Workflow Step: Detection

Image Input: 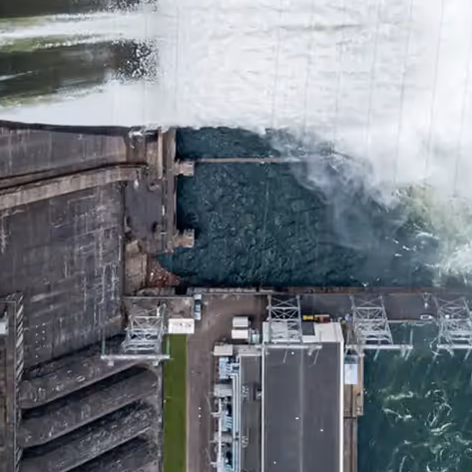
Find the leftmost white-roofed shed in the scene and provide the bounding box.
[167,320,192,335]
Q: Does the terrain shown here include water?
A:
Yes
